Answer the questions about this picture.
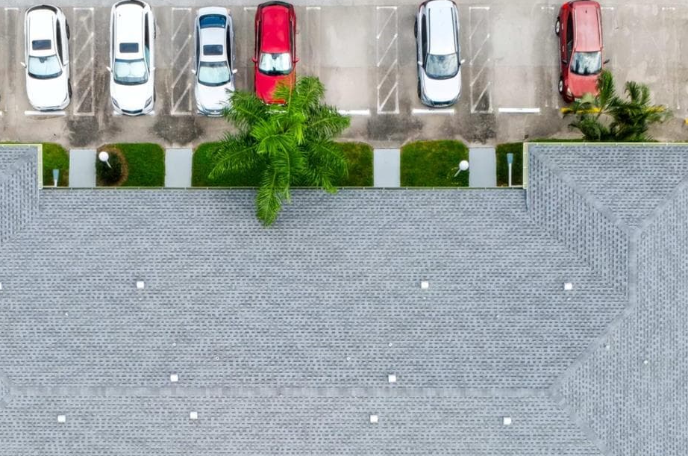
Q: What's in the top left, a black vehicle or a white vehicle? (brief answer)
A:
white vehicle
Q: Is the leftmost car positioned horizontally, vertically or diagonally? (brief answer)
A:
vertically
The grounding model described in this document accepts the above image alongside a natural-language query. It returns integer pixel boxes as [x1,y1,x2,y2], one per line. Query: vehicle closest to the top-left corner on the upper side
[19,7,71,114]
